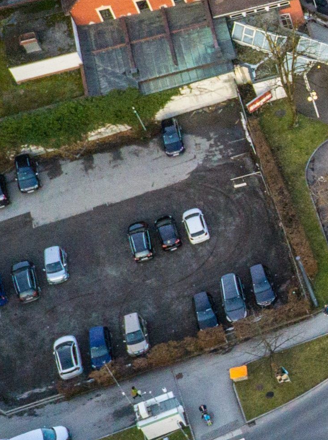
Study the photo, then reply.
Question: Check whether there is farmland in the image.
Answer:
No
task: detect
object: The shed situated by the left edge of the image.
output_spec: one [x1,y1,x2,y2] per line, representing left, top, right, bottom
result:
[0,0,85,79]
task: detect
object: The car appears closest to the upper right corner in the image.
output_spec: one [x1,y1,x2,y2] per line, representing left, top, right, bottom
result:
[158,117,182,154]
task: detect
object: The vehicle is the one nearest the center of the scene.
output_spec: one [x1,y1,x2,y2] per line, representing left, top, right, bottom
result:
[153,214,180,251]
